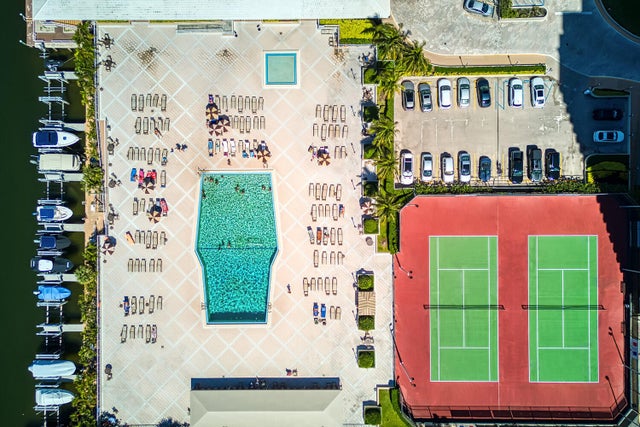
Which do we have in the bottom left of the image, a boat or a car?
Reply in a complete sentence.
Visible in the bottom left of the image is a boat.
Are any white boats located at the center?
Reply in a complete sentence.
No, there's no white boat to be seen at the center.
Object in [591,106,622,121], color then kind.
black car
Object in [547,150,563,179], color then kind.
black car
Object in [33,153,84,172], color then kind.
white boat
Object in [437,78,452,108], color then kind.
white car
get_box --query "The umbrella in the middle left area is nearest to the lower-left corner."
[101,243,116,257]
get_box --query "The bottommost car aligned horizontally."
[592,129,622,143]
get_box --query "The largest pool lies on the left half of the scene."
[188,166,284,329]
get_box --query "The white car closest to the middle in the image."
[400,153,414,183]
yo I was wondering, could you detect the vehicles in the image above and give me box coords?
[547,150,563,179]
[441,154,456,184]
[456,78,471,108]
[418,83,432,113]
[464,0,494,18]
[400,153,414,183]
[509,153,525,182]
[437,78,452,108]
[478,156,492,182]
[401,81,415,111]
[476,78,491,108]
[420,153,434,183]
[458,153,472,183]
[508,78,523,108]
[591,106,622,121]
[592,129,622,143]
[528,78,545,108]
[528,149,545,183]
[497,162,502,174]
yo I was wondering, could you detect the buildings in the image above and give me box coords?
[190,388,342,427]
[31,0,390,19]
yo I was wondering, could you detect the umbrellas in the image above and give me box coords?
[317,154,332,168]
[148,210,162,225]
[140,180,154,194]
[218,118,231,133]
[101,243,116,257]
[256,149,271,163]
[205,106,219,119]
[207,121,220,135]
